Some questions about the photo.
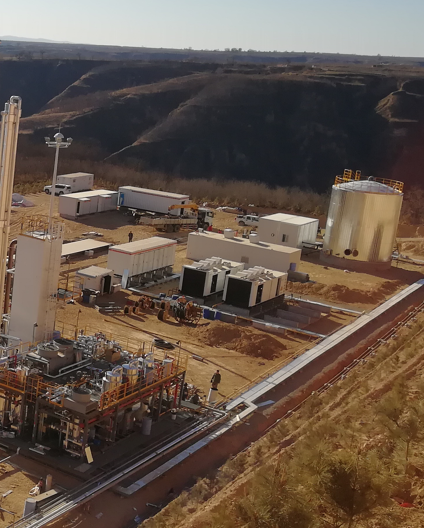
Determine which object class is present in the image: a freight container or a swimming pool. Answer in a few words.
freight container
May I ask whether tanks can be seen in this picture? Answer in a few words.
Yes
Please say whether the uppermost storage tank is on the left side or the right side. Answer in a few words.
right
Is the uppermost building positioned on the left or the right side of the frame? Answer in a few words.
left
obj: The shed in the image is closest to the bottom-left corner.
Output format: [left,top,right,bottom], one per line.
[74,262,126,293]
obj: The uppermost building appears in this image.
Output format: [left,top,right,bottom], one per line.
[58,188,125,218]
